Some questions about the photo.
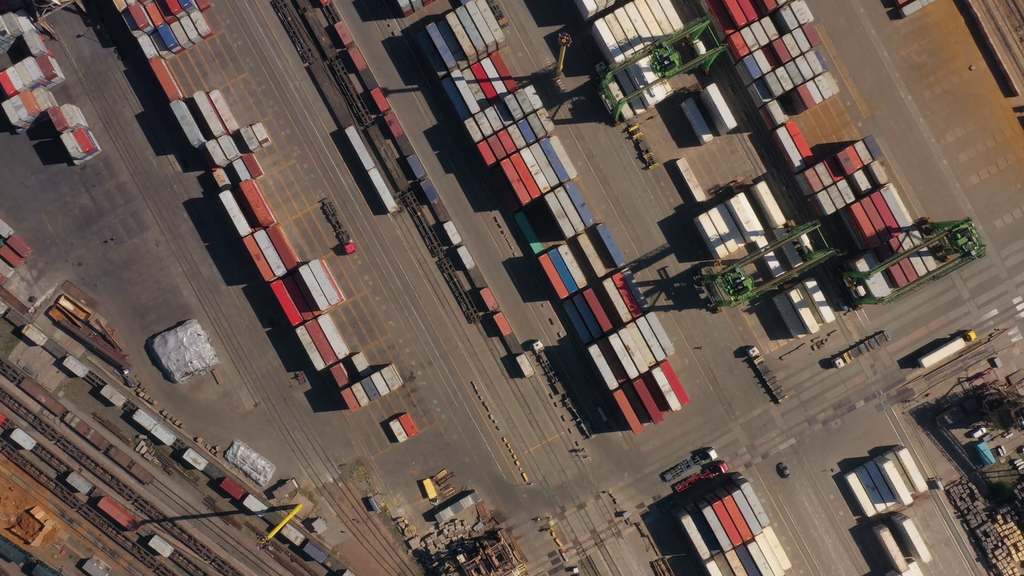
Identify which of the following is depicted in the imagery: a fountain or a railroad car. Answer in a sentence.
Looking from above, you can make out a railroad car.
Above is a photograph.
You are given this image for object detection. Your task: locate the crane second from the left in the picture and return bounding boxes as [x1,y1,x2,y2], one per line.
[594,14,724,125]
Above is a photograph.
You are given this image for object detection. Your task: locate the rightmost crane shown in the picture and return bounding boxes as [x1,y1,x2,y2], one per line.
[838,216,996,313]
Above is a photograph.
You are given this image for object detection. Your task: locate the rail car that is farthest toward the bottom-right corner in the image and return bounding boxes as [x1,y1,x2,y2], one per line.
[494,310,537,378]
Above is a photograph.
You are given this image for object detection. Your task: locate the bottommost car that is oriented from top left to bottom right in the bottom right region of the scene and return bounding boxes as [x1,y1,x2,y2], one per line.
[777,462,792,479]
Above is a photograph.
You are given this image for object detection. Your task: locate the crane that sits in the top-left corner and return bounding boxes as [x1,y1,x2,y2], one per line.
[33,0,88,44]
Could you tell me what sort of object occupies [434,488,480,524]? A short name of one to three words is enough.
shed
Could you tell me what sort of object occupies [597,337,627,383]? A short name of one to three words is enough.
shipping container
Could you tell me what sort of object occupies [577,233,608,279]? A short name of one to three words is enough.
shipping container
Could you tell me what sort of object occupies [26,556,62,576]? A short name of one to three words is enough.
rail car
